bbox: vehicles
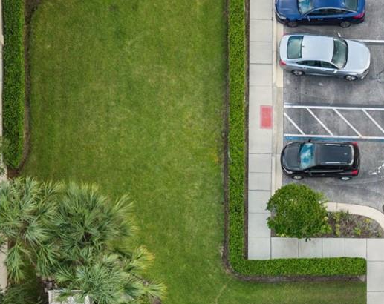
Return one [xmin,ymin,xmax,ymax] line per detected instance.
[273,0,364,22]
[276,131,362,178]
[280,28,372,75]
